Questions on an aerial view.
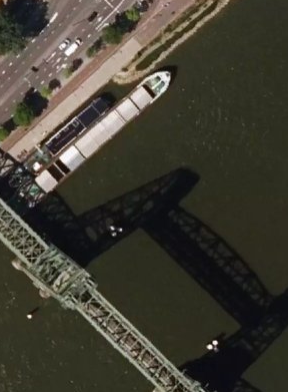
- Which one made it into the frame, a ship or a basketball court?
ship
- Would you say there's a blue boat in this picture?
No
